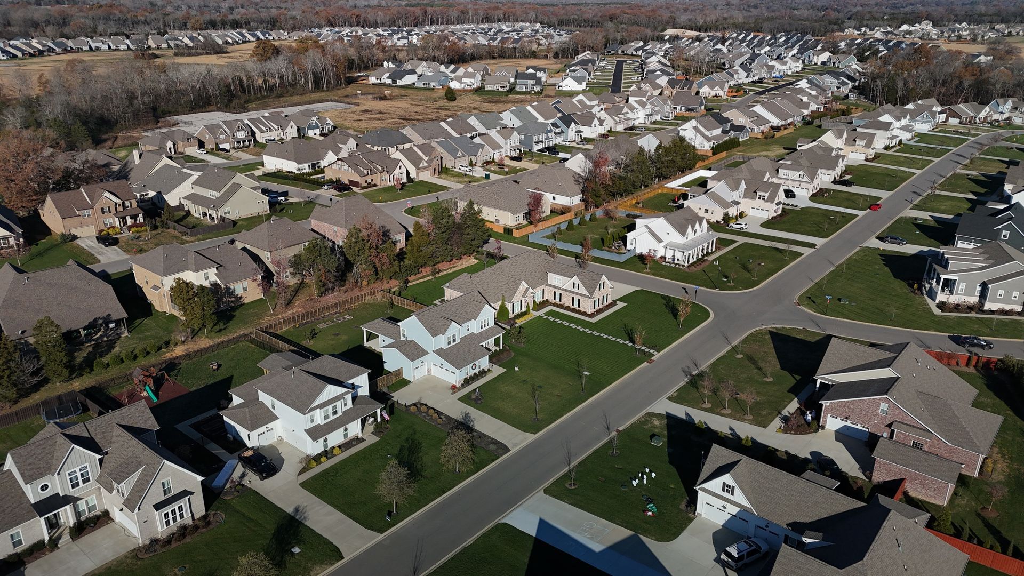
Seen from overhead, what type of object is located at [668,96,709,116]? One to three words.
house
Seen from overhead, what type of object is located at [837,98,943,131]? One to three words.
house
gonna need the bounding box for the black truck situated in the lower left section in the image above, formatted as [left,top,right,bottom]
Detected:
[238,446,278,475]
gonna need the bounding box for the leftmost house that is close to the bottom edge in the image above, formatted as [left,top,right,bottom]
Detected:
[0,393,207,556]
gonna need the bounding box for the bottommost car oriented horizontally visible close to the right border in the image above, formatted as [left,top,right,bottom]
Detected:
[962,337,993,350]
